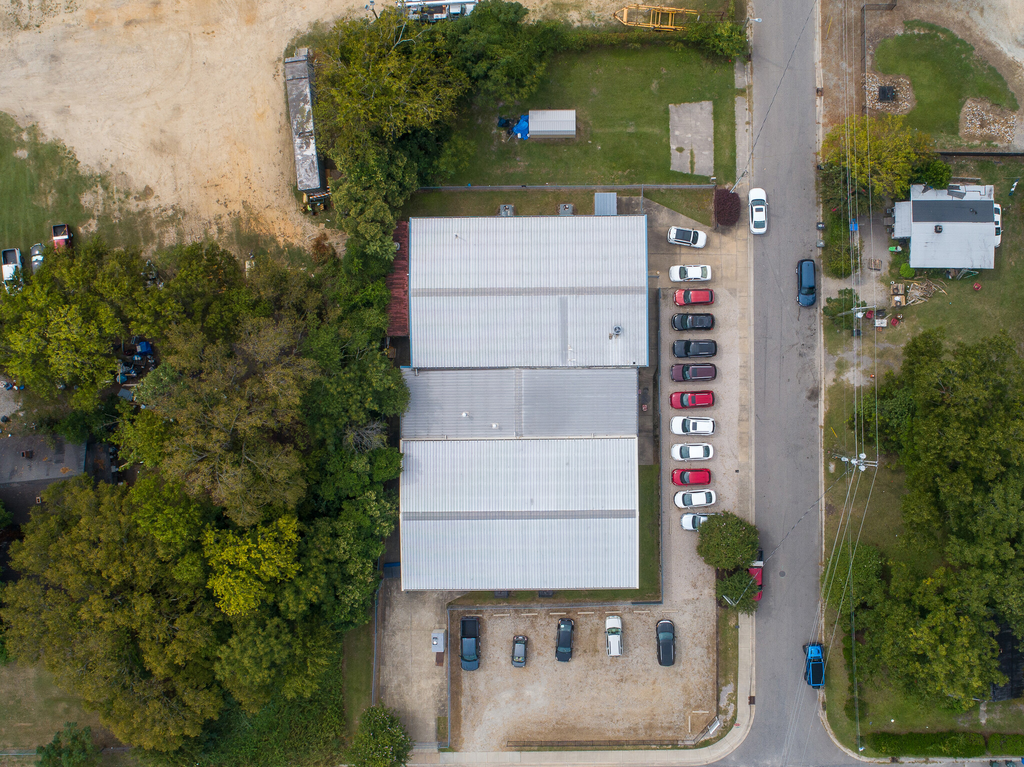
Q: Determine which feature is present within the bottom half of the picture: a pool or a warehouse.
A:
warehouse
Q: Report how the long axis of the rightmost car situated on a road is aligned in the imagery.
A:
up and down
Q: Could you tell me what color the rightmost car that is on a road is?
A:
blue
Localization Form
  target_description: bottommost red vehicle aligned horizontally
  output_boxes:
[671,468,711,487]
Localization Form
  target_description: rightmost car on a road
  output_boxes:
[795,259,817,306]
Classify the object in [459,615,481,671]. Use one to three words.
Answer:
truck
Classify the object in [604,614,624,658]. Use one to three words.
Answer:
car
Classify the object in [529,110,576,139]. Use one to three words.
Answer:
shed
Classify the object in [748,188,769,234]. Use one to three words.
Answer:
car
